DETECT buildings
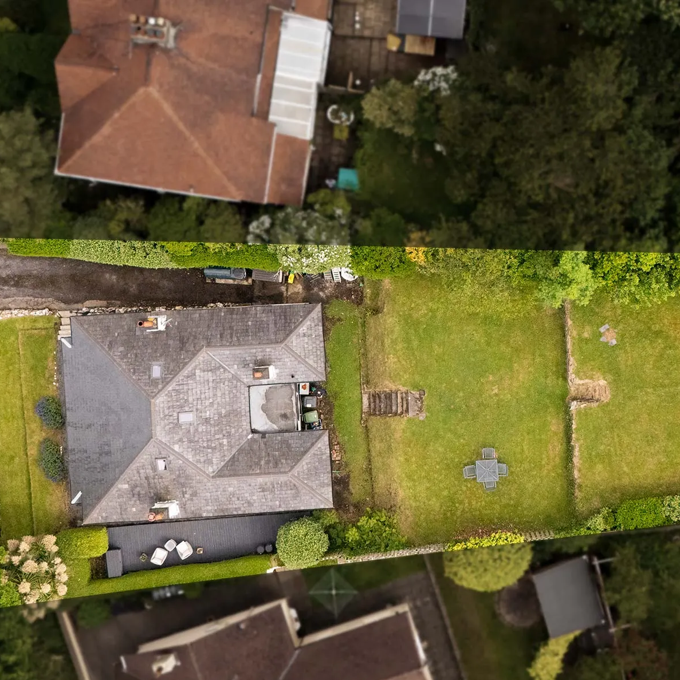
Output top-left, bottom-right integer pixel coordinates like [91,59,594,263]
[54,0,335,209]
[529,543,609,640]
[396,0,466,55]
[61,301,335,526]
[119,596,437,680]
